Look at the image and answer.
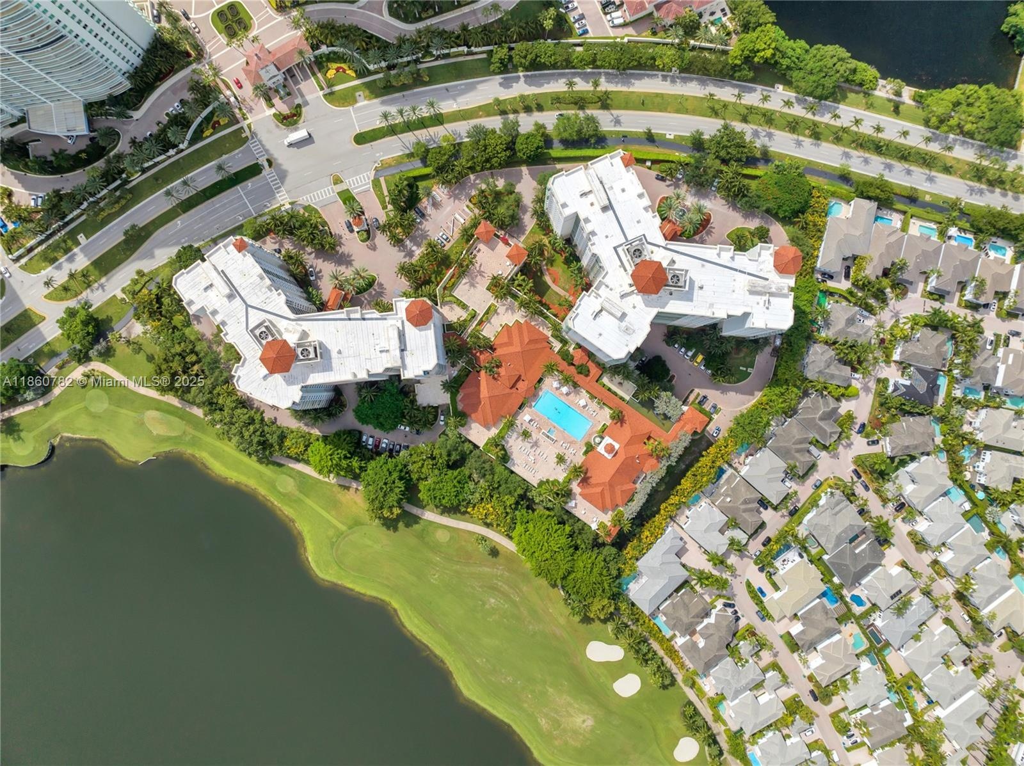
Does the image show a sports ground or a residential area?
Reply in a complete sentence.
This looks like a residential area.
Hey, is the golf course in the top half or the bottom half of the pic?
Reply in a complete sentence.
The bottom half of the photo is where the golf course is.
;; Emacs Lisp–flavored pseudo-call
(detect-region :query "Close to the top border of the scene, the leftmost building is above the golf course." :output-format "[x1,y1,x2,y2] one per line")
[0,0,166,124]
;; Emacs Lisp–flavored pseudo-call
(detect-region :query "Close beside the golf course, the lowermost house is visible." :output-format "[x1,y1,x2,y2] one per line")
[753,707,811,766]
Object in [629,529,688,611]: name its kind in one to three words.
house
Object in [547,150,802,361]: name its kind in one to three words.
building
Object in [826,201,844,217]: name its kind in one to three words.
swimming pool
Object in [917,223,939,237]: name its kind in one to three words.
swimming pool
